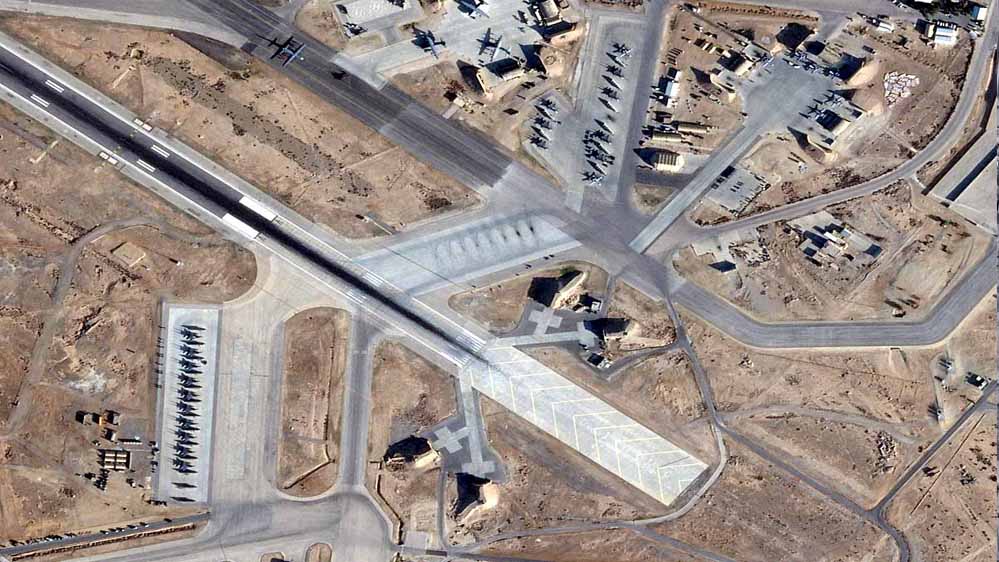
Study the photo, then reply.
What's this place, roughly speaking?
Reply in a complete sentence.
This image shows an airport.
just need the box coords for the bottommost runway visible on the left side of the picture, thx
[253,217,489,374]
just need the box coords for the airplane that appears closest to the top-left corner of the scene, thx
[281,43,302,68]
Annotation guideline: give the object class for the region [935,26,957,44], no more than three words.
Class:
building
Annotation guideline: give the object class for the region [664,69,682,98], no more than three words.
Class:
building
